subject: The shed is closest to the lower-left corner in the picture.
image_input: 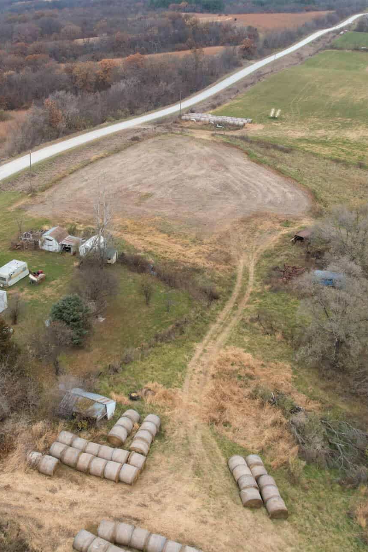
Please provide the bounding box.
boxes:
[67,387,121,423]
